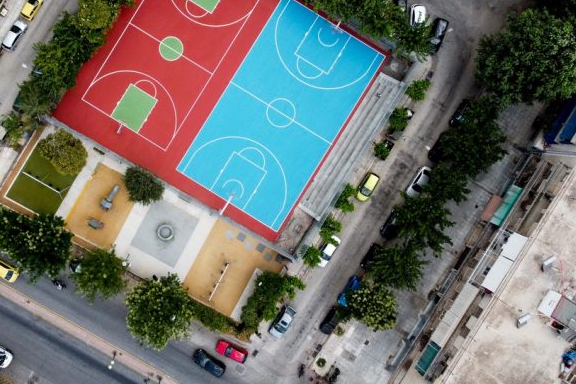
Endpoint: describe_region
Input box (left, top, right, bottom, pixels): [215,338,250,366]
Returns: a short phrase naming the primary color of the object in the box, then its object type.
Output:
red car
